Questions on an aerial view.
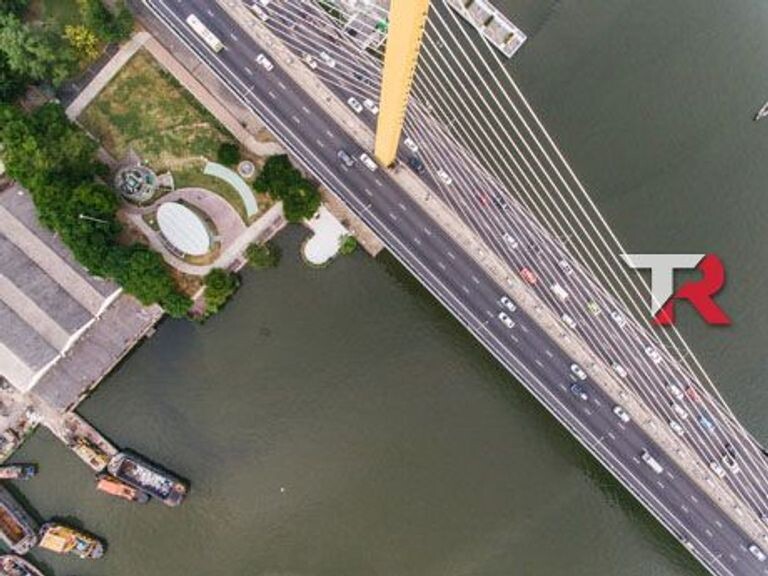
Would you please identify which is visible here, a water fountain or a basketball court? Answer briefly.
water fountain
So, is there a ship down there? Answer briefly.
Yes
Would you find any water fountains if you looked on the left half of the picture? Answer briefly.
Yes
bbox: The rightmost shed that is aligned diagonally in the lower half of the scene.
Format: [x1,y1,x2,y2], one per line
[32,290,164,414]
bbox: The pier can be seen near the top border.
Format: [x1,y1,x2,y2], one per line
[445,0,527,58]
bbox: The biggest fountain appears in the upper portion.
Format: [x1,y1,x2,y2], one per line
[115,164,157,206]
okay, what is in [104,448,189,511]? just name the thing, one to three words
ship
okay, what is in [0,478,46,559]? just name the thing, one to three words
ship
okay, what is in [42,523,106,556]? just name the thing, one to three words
boat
